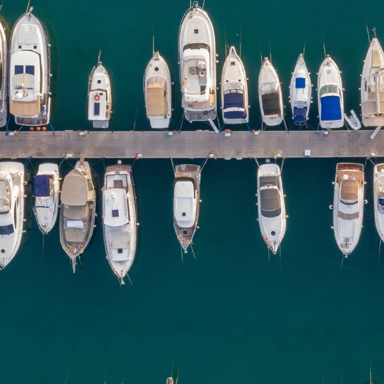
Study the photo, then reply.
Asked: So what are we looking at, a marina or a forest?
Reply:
marina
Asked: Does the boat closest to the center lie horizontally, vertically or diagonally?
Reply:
vertically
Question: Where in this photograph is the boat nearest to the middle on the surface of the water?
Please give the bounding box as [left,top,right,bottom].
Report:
[172,165,200,255]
